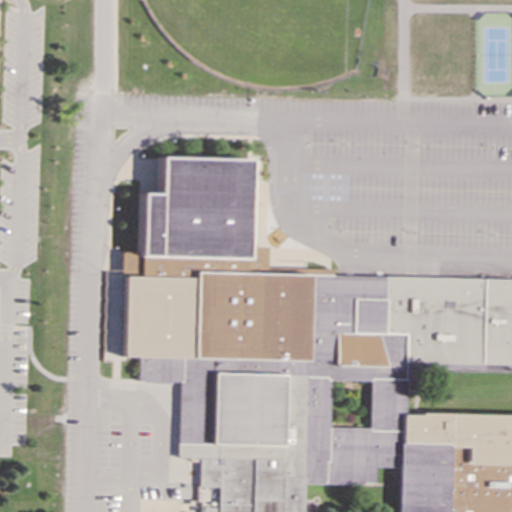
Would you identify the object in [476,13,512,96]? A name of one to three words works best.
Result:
tennis court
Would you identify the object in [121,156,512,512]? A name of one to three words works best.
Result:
building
